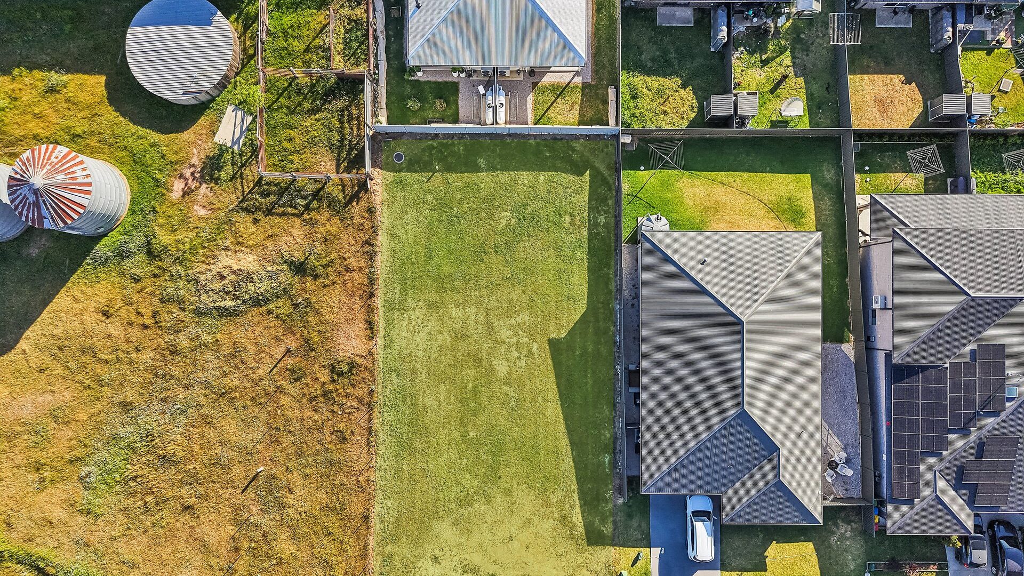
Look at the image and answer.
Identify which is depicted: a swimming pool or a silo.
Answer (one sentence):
Of the two, only a silo appears.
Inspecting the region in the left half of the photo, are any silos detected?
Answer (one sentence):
Yes, the scene does show a silo in the left half of the photo.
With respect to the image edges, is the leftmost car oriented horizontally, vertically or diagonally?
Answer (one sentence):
The leftmost car has been laid out vertically relative to the frame.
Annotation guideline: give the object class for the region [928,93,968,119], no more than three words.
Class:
shed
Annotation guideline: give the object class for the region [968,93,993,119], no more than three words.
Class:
shed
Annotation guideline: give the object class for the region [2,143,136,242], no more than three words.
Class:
silo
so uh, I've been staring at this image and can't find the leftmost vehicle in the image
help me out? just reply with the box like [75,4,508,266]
[682,494,715,563]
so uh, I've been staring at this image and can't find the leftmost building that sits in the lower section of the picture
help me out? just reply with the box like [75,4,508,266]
[636,230,823,525]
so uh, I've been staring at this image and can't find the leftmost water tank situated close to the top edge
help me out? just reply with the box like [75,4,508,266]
[122,0,244,108]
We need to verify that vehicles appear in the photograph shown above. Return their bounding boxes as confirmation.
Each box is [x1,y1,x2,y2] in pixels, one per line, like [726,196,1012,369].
[989,522,1024,576]
[682,494,715,563]
[962,513,995,575]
